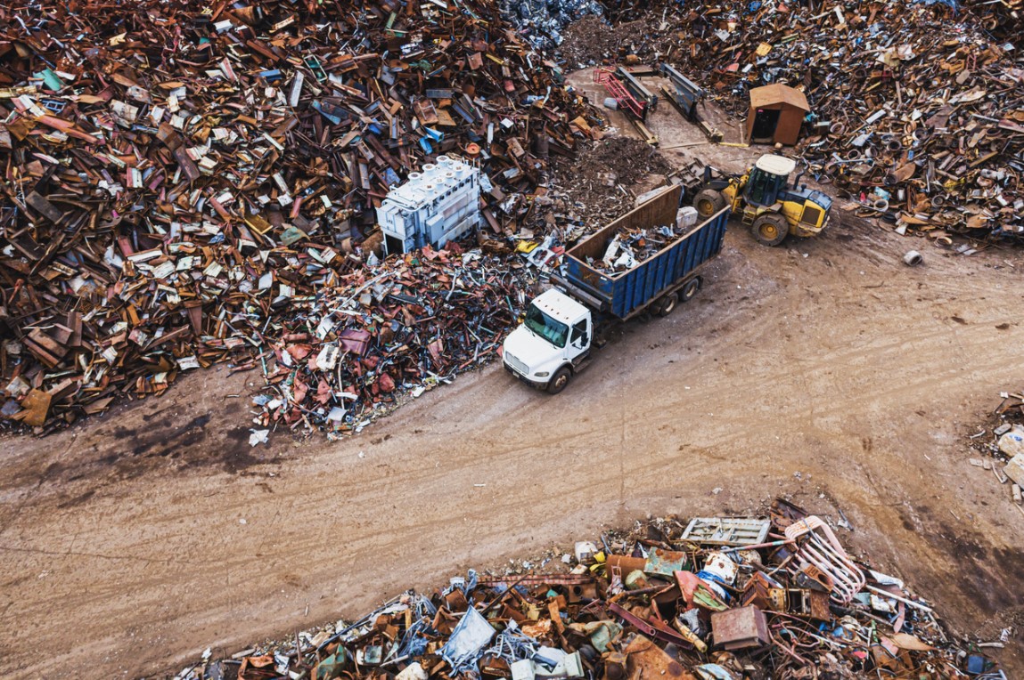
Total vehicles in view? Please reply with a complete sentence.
I count 2 vehicles.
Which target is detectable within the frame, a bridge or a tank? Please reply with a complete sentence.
The one in the frame is a tank.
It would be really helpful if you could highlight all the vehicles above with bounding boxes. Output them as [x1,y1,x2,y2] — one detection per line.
[501,273,620,395]
[649,156,829,251]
